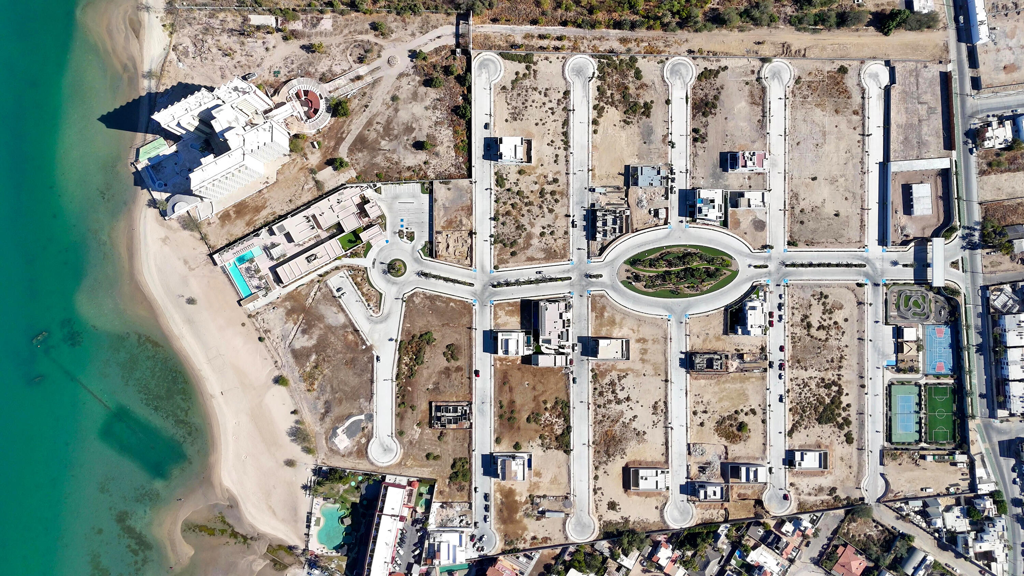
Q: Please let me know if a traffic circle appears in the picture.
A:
Yes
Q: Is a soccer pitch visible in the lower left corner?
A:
No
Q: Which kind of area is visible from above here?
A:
residential area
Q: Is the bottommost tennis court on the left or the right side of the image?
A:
right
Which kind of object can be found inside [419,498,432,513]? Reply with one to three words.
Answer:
swimming pool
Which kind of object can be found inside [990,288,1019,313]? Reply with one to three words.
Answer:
shed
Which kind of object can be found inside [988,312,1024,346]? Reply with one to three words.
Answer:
building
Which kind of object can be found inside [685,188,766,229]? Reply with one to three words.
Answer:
house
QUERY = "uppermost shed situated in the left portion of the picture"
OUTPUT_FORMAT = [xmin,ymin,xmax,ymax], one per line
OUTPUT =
[248,15,280,28]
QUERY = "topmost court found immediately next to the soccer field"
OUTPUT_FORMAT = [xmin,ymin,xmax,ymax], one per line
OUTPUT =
[926,325,952,374]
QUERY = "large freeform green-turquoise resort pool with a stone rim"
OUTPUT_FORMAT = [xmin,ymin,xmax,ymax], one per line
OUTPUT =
[316,502,347,552]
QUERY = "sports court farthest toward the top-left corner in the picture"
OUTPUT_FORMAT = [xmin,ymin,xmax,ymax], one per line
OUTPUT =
[135,136,170,162]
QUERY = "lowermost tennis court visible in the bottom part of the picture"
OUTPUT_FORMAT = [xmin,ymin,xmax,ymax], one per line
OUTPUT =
[892,385,919,442]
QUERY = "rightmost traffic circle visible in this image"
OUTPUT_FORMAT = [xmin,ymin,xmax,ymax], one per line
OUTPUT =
[619,245,739,298]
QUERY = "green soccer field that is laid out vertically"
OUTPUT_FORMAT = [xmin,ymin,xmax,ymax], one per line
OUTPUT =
[928,385,954,444]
